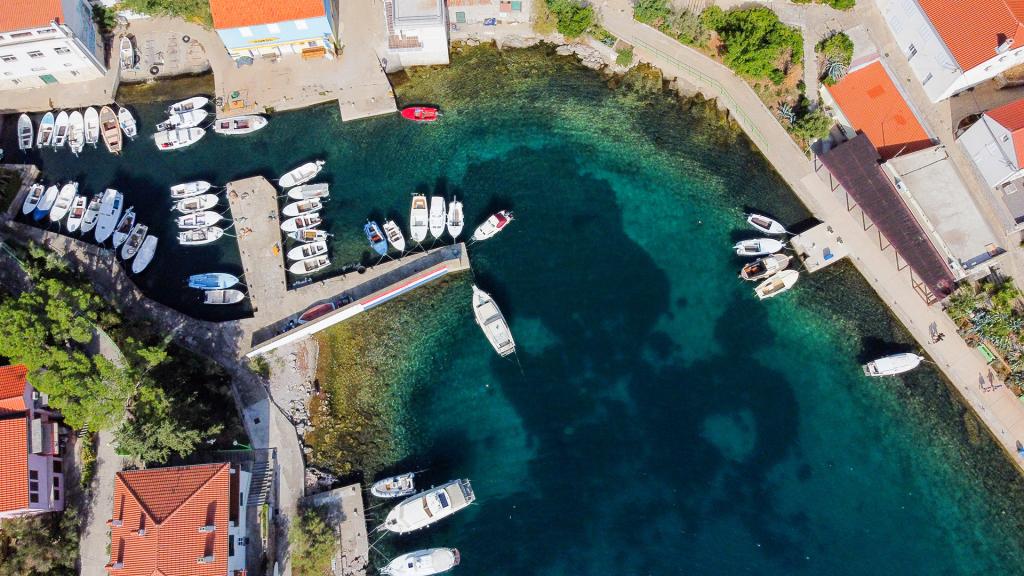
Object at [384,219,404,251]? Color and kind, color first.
white boat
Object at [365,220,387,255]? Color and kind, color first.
blue boat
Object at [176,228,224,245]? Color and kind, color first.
white boat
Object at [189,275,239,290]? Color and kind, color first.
blue boat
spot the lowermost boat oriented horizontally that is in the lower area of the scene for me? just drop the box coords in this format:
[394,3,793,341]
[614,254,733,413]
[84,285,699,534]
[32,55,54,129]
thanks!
[376,544,464,576]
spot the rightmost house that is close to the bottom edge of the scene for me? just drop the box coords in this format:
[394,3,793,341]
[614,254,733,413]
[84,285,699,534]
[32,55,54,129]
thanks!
[107,462,253,576]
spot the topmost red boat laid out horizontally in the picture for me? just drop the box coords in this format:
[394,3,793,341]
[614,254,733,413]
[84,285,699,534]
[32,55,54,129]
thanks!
[401,108,439,121]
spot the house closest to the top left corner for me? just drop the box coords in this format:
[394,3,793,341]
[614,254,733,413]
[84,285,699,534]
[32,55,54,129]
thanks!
[0,0,107,89]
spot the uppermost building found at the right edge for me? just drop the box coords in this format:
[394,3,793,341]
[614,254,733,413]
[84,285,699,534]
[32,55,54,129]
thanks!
[876,0,1024,102]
